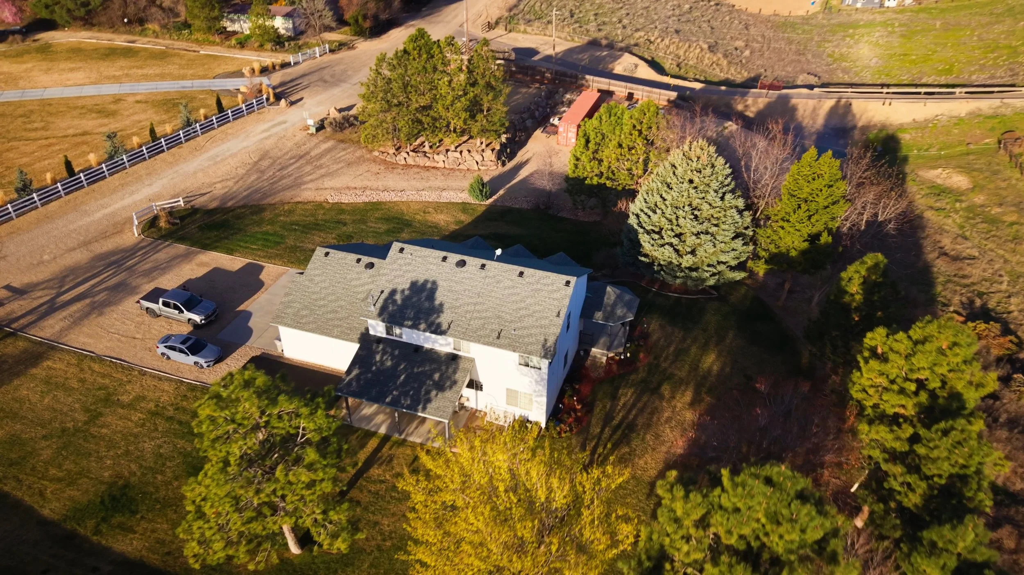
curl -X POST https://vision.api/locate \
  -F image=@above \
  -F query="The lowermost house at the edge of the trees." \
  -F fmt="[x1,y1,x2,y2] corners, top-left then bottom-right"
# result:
[270,234,644,445]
